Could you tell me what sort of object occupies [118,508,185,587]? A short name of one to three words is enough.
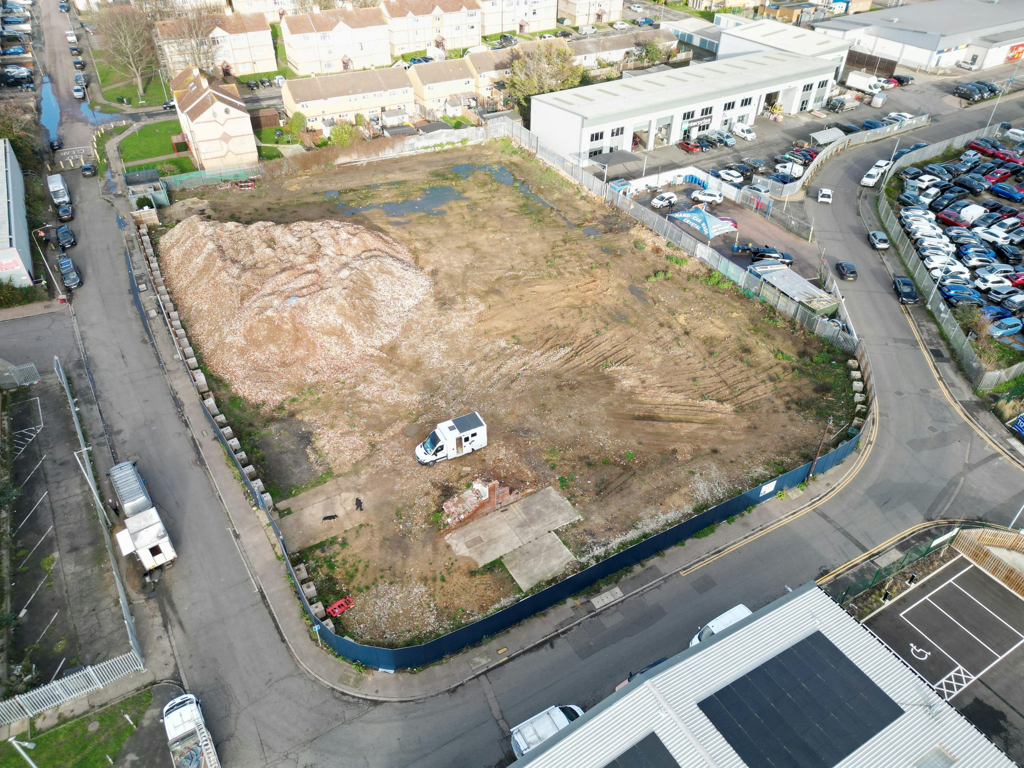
trailer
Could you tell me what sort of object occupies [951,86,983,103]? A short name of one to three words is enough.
vehicle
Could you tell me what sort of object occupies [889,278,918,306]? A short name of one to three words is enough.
car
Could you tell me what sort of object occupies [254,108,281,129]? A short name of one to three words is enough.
shed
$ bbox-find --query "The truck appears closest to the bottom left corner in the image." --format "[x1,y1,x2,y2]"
[162,690,221,768]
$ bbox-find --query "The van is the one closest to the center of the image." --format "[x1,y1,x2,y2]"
[418,411,487,468]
